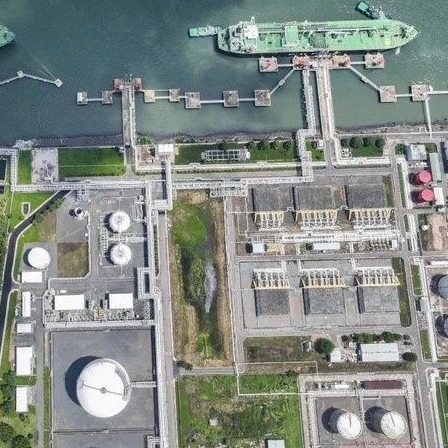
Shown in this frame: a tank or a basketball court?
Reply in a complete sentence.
There is a tank in the scene.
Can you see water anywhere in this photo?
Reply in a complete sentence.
Yes, water can be seen from above here.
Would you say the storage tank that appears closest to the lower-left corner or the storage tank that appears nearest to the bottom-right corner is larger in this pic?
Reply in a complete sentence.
The storage tank that appears closest to the lower-left corner covers a greater area than the storage tank that appears nearest to the bottom-right corner.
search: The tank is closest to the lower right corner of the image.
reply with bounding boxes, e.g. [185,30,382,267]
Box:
[370,409,407,440]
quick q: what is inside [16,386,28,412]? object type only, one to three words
building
